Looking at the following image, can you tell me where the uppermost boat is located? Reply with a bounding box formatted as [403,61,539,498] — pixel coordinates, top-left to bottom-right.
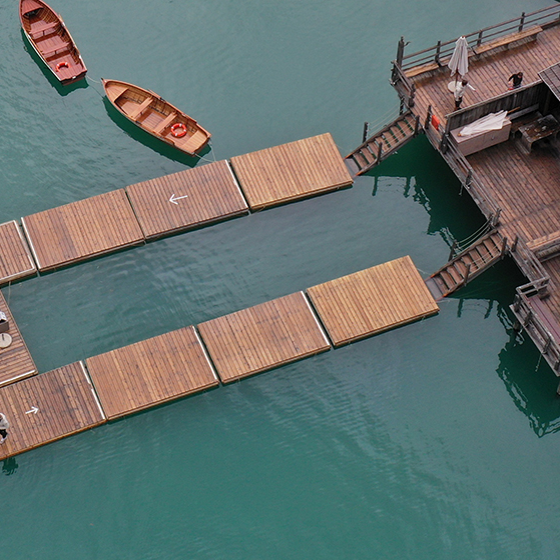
[20,0,88,86]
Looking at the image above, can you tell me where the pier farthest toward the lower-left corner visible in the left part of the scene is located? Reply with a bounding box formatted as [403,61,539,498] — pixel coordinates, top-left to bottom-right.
[0,362,108,460]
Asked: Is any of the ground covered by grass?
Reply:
No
